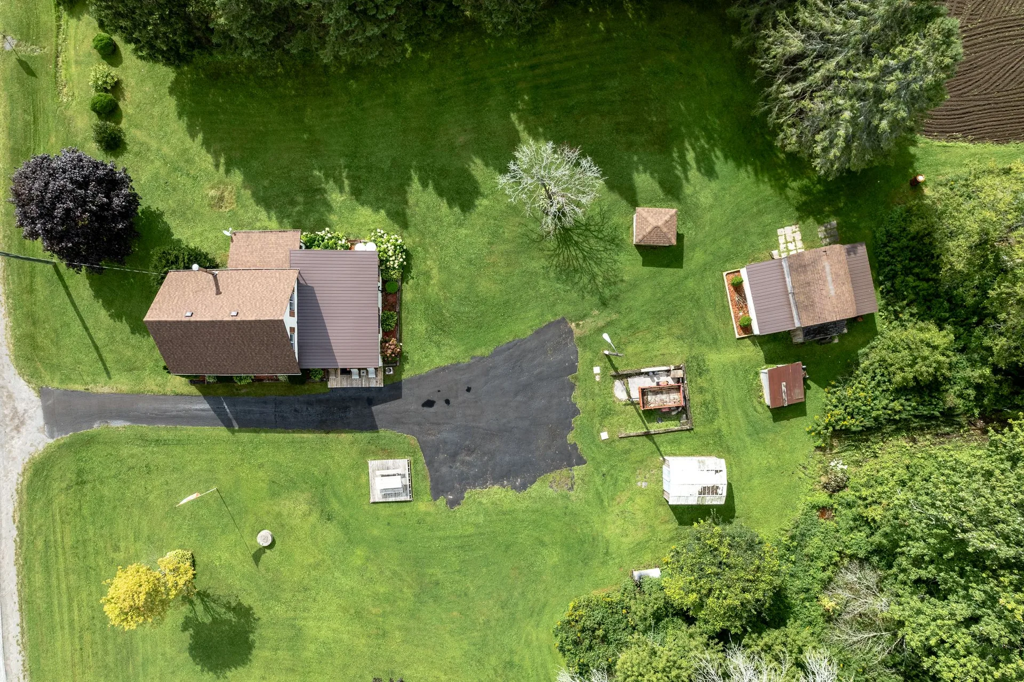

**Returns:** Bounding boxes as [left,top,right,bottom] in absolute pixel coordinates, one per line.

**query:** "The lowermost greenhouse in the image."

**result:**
[661,456,728,504]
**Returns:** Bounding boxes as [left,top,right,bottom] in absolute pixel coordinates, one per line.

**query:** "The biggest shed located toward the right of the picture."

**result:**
[742,242,878,342]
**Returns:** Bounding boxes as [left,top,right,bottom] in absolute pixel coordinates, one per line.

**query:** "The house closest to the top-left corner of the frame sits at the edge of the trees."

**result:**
[144,225,384,376]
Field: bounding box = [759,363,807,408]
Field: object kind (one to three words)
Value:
shed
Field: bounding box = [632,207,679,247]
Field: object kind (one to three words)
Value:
shed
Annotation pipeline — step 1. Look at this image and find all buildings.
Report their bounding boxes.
[661,456,728,504]
[144,225,384,376]
[759,363,807,408]
[742,242,878,342]
[632,207,679,247]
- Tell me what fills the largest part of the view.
grass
